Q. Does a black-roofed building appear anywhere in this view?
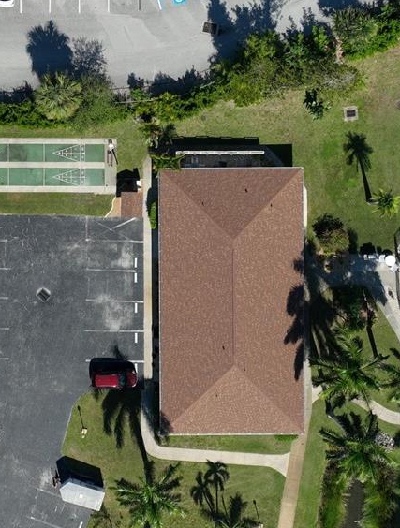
No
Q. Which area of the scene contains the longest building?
center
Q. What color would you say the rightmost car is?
red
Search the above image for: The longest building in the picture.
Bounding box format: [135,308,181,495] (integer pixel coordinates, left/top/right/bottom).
[158,166,305,436]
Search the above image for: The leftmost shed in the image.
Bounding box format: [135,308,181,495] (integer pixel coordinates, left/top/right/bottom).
[122,191,143,218]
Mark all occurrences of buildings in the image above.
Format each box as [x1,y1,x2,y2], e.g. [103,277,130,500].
[122,191,143,218]
[158,166,305,436]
